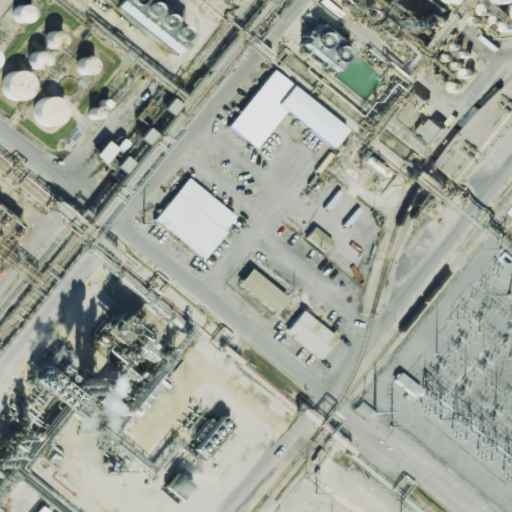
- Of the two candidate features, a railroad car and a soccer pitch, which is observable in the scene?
railroad car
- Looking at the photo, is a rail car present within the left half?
No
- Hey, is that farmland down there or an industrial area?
industrial area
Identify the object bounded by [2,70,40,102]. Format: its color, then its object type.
white storage tank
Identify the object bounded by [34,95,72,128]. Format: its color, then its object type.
white storage tank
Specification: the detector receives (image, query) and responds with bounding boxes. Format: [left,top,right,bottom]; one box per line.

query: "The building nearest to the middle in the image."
[238,268,289,314]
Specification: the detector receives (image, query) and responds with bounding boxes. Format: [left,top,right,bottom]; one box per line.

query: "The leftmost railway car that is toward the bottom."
[402,300,428,332]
